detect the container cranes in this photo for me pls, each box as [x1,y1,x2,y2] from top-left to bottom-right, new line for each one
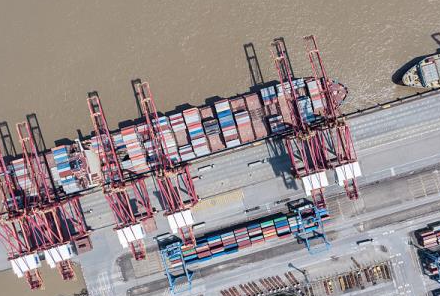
[303,34,366,196]
[87,98,159,260]
[0,151,63,291]
[158,244,194,296]
[15,120,96,281]
[270,44,333,206]
[295,202,330,256]
[137,83,202,245]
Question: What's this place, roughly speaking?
port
